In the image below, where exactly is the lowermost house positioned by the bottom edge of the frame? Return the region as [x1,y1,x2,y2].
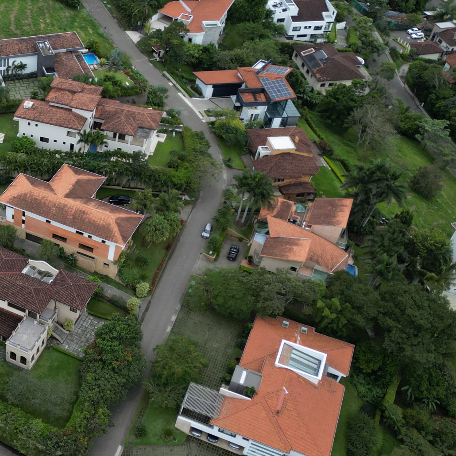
[174,312,356,456]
